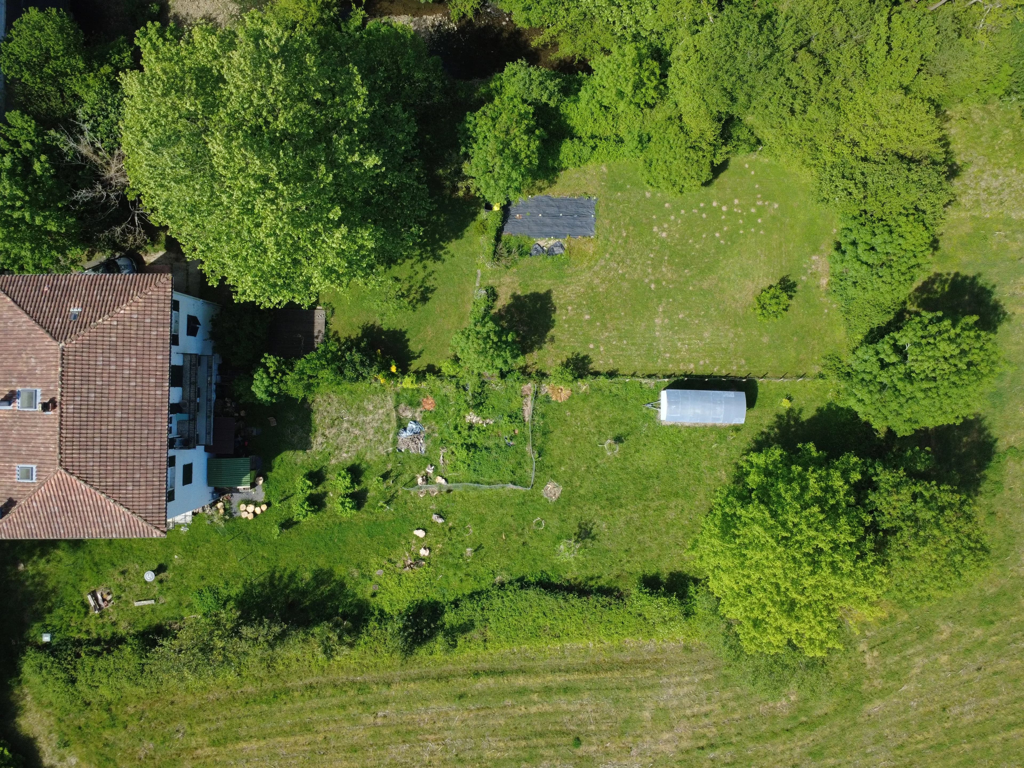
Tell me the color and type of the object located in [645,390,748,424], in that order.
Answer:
white trailer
